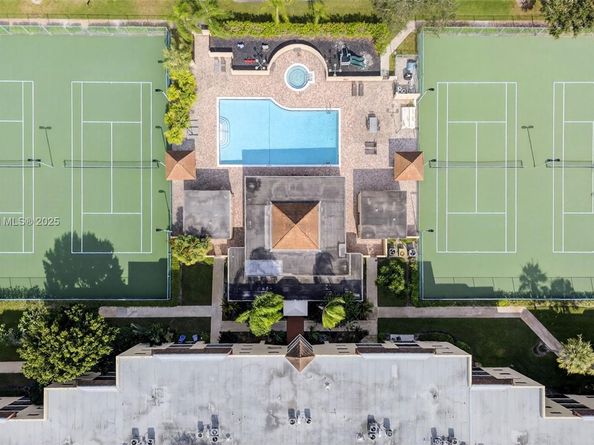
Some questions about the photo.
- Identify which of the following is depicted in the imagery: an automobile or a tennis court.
tennis court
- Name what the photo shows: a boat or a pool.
pool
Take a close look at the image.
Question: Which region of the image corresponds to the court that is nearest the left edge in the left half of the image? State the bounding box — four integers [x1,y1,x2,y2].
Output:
[0,35,55,298]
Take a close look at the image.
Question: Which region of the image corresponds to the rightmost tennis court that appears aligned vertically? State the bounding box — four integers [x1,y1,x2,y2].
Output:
[533,35,594,298]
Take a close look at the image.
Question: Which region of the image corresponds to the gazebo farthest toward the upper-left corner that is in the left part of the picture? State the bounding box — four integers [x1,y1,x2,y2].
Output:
[166,150,198,181]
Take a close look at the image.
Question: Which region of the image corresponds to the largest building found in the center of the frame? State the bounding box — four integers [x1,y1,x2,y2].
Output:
[228,176,363,316]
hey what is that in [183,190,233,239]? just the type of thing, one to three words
building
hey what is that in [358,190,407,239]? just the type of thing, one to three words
building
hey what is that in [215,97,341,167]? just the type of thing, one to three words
swimming pool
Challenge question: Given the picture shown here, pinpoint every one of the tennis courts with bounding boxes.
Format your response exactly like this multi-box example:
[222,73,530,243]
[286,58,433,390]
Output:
[418,35,538,298]
[0,35,55,298]
[50,35,172,298]
[533,35,594,298]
